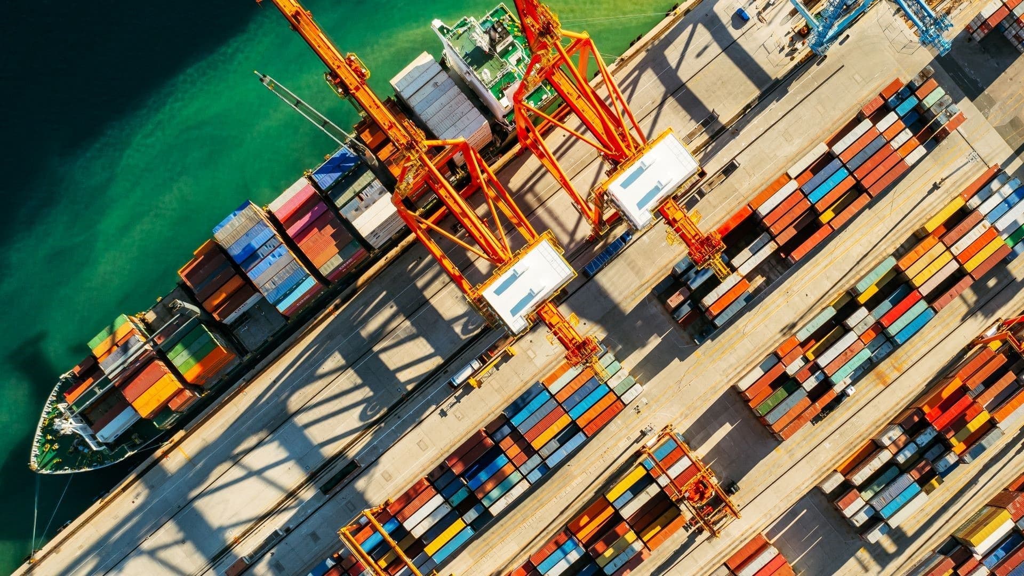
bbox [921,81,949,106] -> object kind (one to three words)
shipping container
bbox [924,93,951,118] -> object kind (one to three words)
shipping container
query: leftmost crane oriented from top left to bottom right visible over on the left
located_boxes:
[253,70,389,177]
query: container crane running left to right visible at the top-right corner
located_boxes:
[765,0,985,84]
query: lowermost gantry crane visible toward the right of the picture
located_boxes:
[634,420,746,539]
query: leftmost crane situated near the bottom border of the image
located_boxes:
[338,501,442,576]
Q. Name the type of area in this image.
port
